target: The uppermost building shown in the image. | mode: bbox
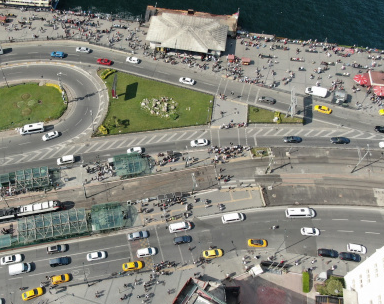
[145,12,230,63]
